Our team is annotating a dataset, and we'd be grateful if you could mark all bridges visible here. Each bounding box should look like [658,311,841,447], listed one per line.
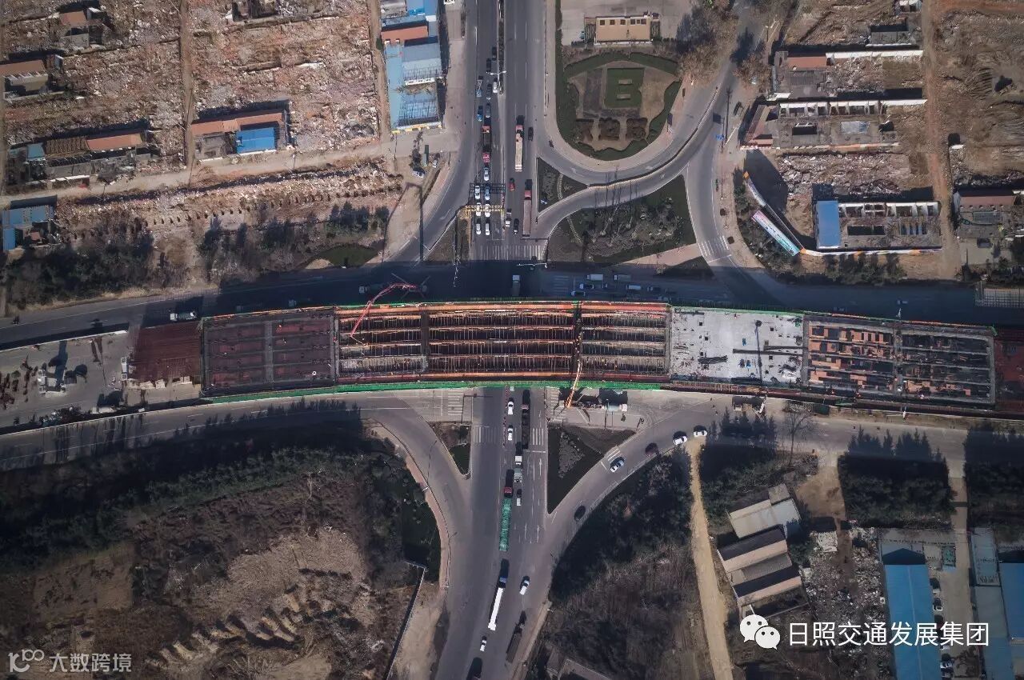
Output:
[143,295,1024,421]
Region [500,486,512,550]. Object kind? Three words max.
vehicle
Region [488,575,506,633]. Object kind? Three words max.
vehicle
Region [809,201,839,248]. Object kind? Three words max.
shed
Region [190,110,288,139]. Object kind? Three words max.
house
